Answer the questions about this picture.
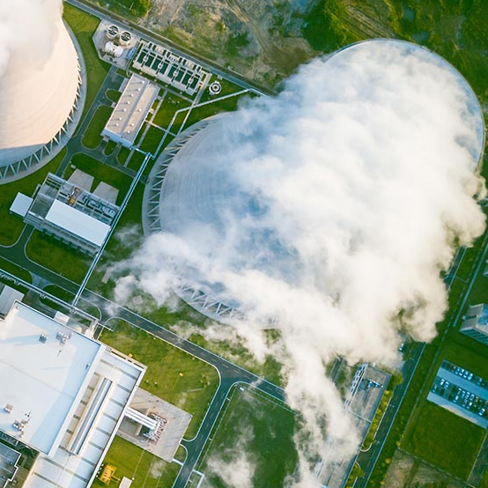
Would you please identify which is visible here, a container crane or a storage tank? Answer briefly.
storage tank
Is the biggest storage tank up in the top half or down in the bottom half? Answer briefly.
top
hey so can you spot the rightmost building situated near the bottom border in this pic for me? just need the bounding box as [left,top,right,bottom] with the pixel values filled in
[303,359,390,488]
